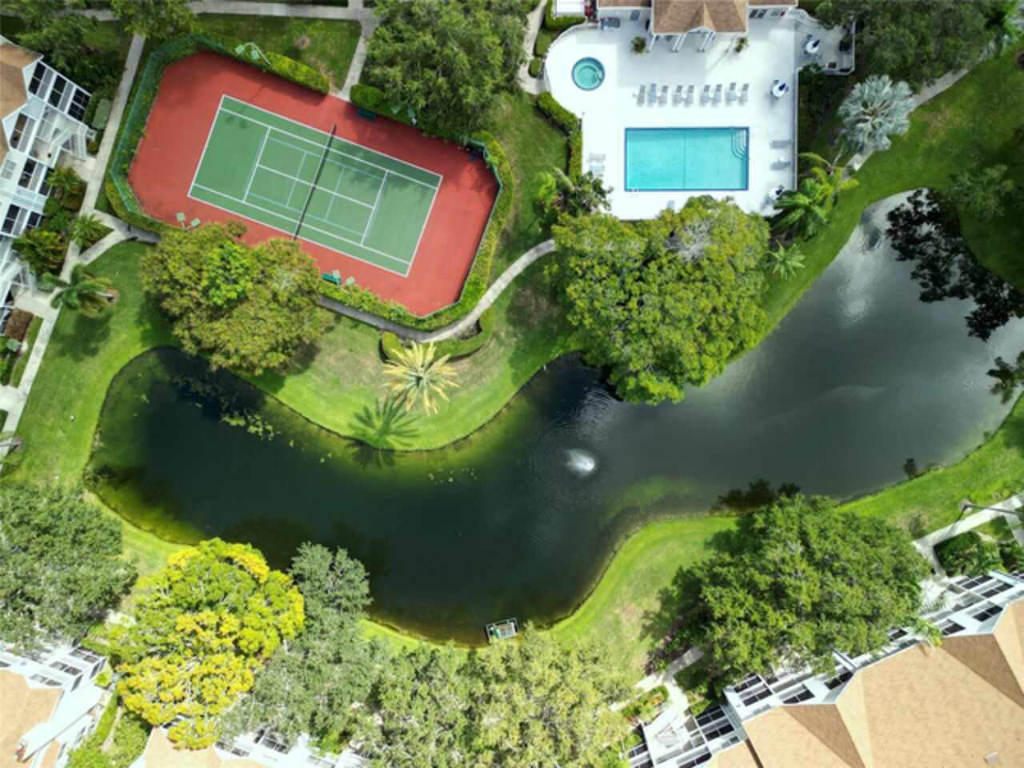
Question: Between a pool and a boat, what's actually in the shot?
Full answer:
I can see a pool in this picture.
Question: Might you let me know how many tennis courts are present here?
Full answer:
The picture shows 1 tennis court.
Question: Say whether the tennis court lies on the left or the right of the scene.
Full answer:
The tennis court is on the left side of the image.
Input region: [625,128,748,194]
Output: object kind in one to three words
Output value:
swimming pool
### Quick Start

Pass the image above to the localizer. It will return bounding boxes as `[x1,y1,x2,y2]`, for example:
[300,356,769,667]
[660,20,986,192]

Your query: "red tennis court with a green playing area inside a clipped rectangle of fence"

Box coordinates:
[129,51,497,315]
